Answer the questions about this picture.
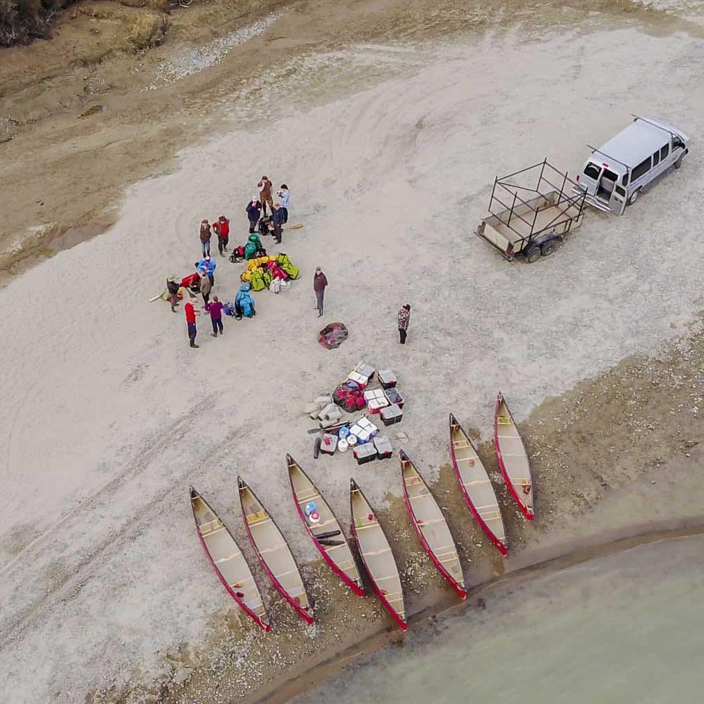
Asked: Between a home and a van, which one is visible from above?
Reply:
van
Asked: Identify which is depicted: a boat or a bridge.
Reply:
boat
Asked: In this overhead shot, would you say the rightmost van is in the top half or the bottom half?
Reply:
top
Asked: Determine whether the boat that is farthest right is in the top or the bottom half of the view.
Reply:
bottom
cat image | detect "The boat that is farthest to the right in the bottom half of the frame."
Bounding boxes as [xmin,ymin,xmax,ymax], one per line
[495,393,537,526]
